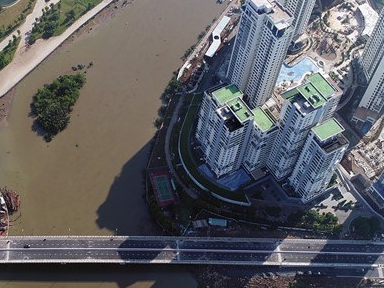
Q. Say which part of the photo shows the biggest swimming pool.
top right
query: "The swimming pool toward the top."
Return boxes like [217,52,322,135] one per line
[273,55,321,91]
